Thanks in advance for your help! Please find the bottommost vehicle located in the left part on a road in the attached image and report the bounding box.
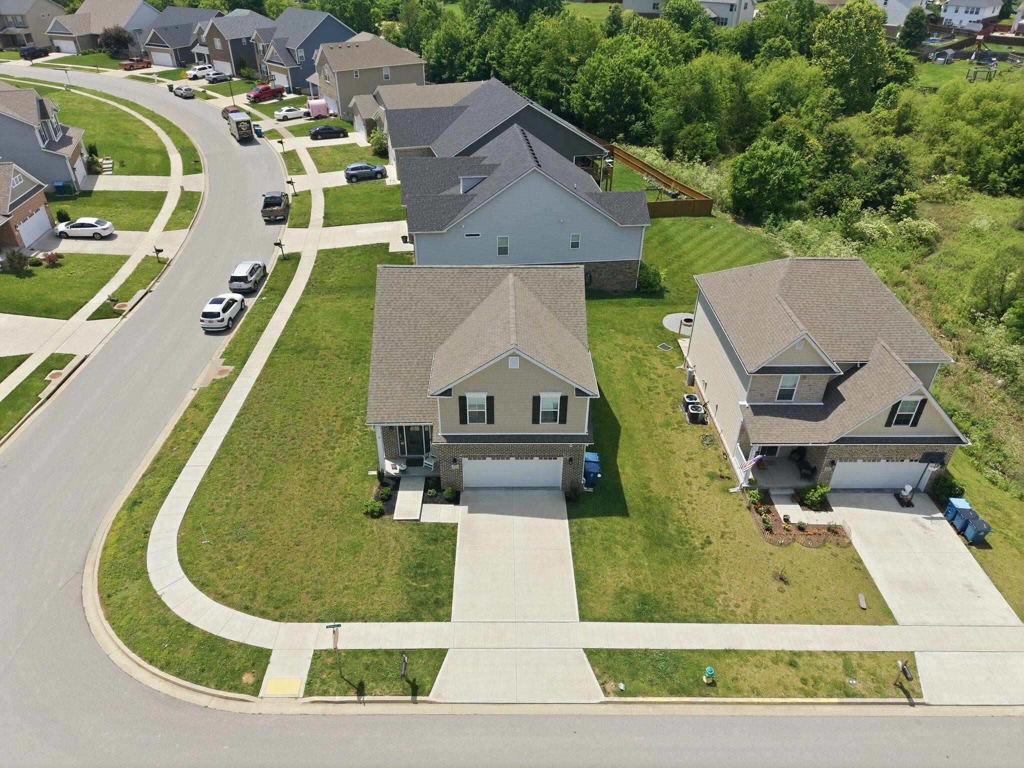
[198,293,246,330]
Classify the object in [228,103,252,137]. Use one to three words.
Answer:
truck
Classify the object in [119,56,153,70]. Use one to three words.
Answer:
vehicle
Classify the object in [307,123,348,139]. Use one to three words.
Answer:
car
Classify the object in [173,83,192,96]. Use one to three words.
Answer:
vehicle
